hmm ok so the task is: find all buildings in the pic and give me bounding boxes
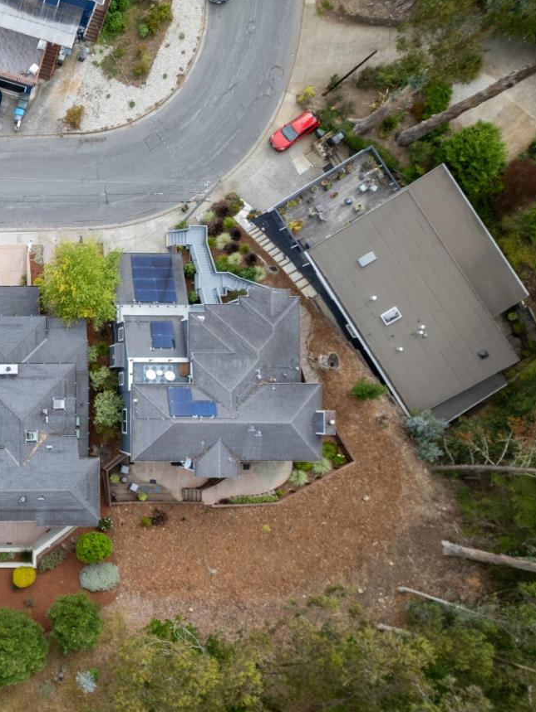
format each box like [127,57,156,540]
[104,252,337,505]
[0,0,117,95]
[260,145,531,424]
[0,285,102,567]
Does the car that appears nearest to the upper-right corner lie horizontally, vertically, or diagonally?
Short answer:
diagonally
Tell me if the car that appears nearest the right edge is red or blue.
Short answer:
red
